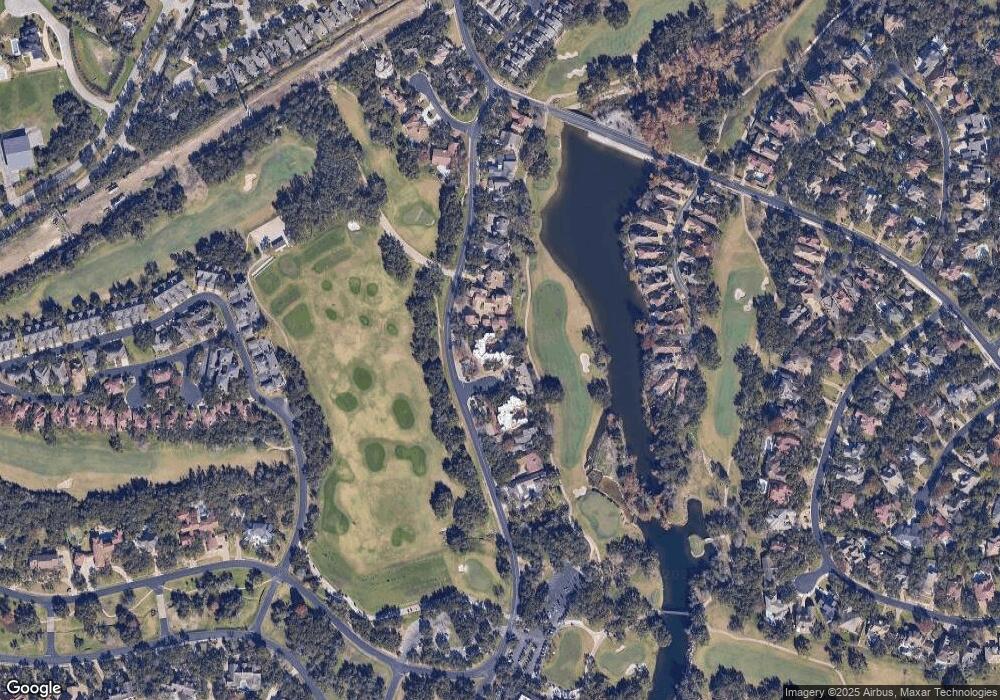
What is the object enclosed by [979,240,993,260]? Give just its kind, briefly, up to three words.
swimming pool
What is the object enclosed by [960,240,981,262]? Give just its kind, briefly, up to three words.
house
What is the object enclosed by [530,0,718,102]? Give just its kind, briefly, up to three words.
golf course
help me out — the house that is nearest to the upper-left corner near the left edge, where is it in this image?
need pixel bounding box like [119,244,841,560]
[20,21,42,56]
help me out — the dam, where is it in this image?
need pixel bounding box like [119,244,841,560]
[567,104,652,162]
